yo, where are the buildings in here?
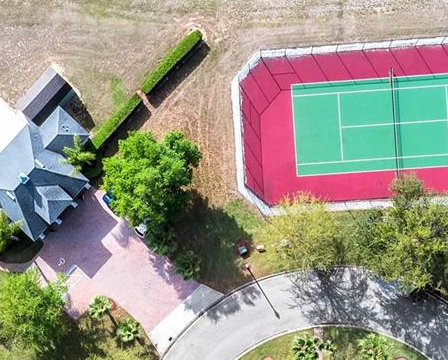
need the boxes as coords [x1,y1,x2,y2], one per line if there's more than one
[15,65,69,121]
[0,106,98,242]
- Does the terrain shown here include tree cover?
Yes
